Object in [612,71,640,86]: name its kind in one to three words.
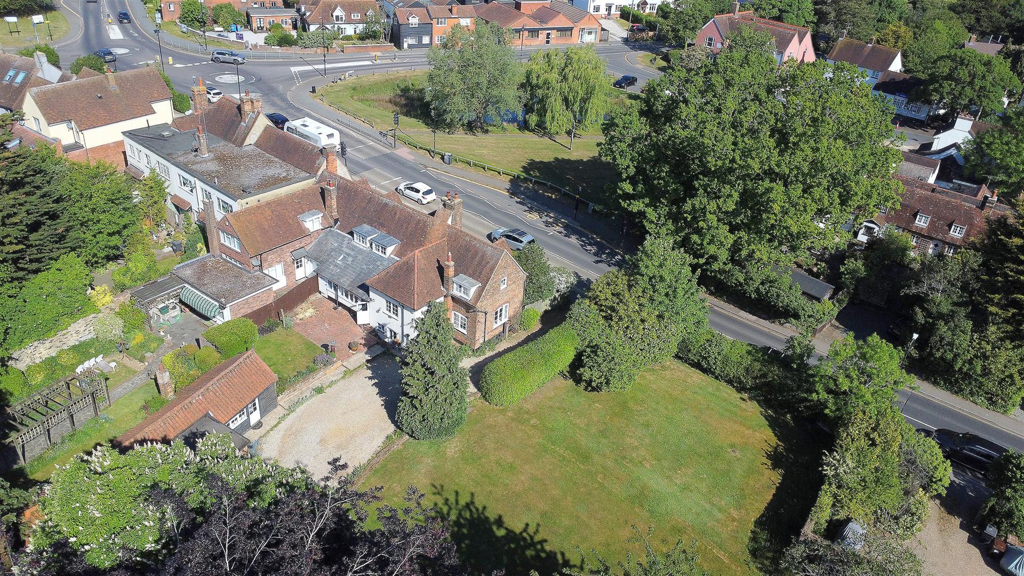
car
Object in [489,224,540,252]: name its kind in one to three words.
car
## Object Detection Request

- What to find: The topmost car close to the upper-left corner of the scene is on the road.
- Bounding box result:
[116,7,131,21]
